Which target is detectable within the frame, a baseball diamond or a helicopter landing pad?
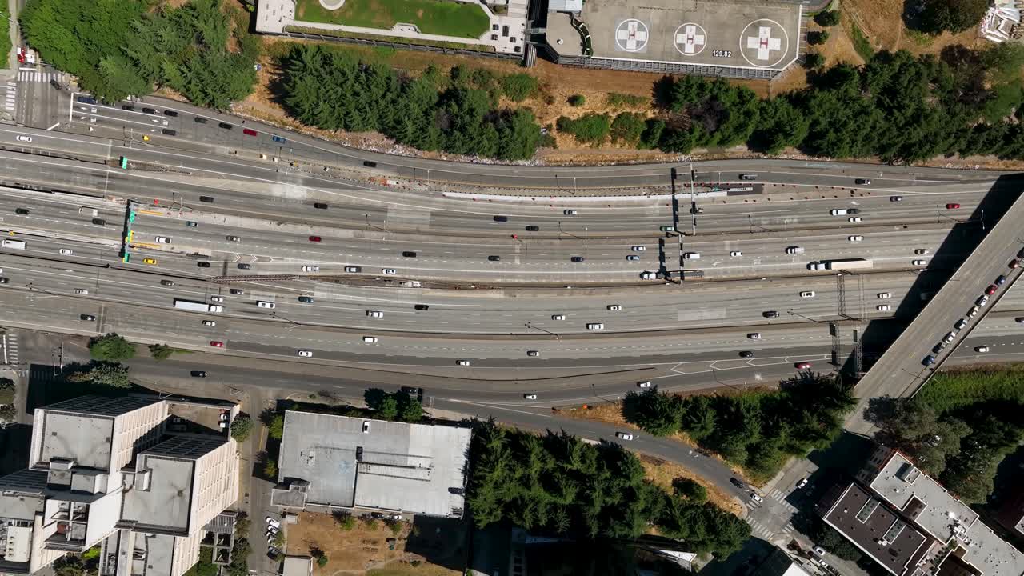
helicopter landing pad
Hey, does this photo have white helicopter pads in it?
Yes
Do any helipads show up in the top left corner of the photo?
No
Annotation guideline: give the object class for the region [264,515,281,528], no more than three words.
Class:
vehicle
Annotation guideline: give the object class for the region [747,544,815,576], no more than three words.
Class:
building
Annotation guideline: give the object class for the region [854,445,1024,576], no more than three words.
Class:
building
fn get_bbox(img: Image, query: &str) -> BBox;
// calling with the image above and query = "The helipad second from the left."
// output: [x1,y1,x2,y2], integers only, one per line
[674,23,706,56]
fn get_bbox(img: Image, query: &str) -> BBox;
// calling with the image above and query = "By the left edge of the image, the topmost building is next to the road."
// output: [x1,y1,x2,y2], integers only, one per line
[30,393,165,472]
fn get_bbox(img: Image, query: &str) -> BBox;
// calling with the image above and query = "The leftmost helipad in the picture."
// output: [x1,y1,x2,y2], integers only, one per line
[615,18,649,52]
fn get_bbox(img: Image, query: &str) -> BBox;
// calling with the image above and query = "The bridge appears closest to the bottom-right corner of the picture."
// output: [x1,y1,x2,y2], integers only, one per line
[848,195,1024,402]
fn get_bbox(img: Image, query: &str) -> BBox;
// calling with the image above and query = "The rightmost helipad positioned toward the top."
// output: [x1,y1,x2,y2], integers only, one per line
[740,19,788,67]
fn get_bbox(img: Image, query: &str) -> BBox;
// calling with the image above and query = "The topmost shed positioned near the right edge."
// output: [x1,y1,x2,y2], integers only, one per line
[981,0,1020,42]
